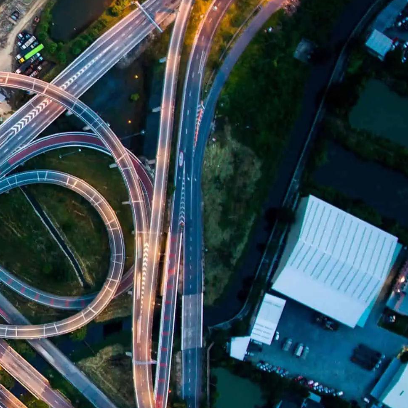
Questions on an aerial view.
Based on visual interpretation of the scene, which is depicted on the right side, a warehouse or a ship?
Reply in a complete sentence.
It is a warehouse that can be seen on the right side.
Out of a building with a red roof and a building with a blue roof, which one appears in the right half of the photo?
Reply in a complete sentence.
You can see a building with a blue roof in the right half of the photo.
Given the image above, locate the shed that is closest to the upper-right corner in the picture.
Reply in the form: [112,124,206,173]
[368,0,408,32]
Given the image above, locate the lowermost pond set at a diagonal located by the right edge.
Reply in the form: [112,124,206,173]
[316,153,408,237]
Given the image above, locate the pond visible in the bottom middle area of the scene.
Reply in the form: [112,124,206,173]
[215,366,265,408]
